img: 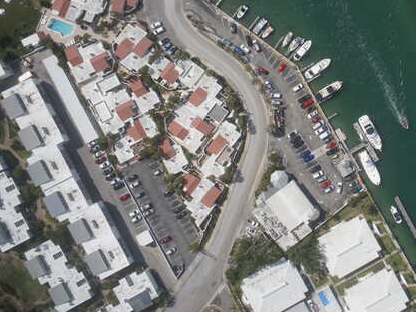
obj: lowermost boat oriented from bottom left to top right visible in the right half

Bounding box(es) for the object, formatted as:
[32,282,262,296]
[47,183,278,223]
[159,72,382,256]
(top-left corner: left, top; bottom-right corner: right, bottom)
[313,81,343,102]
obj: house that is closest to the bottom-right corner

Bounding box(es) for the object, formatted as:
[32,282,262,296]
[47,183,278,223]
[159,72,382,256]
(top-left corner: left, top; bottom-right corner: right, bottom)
[343,265,408,312]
